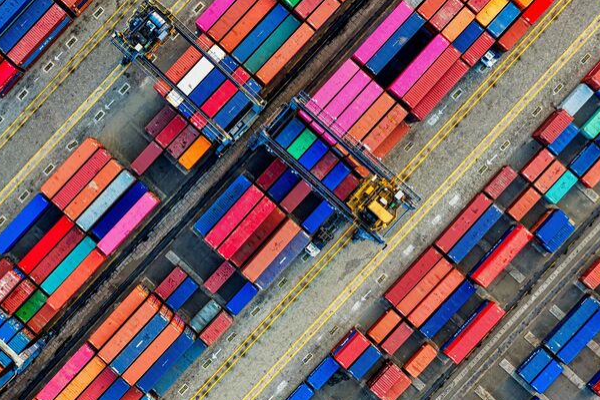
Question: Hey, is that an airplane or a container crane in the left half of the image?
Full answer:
There is a container crane in the left half of the image.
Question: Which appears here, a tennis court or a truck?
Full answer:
This aerial view contains a truck.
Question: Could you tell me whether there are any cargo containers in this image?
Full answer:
Yes, there's a cargo container here.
